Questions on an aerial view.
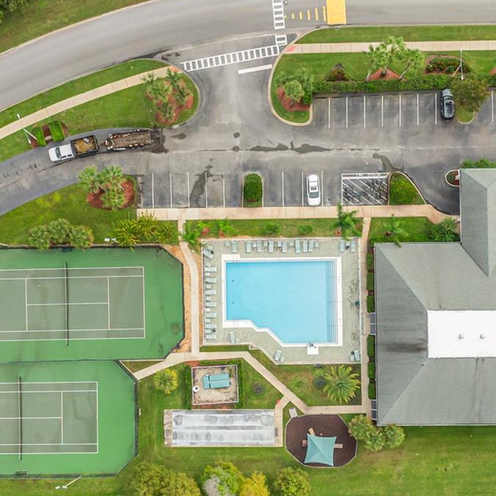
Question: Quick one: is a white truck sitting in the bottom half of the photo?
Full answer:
No, I can find no white truck in the bottom half of the photo.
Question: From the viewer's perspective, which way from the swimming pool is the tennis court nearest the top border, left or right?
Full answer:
You can see the tennis court nearest the top border positioned to the left of the swimming pool.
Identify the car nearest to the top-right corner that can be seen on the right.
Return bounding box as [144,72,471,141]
[441,88,457,119]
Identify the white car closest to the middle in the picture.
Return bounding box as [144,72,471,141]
[307,172,320,205]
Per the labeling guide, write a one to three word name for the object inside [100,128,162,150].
trailer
